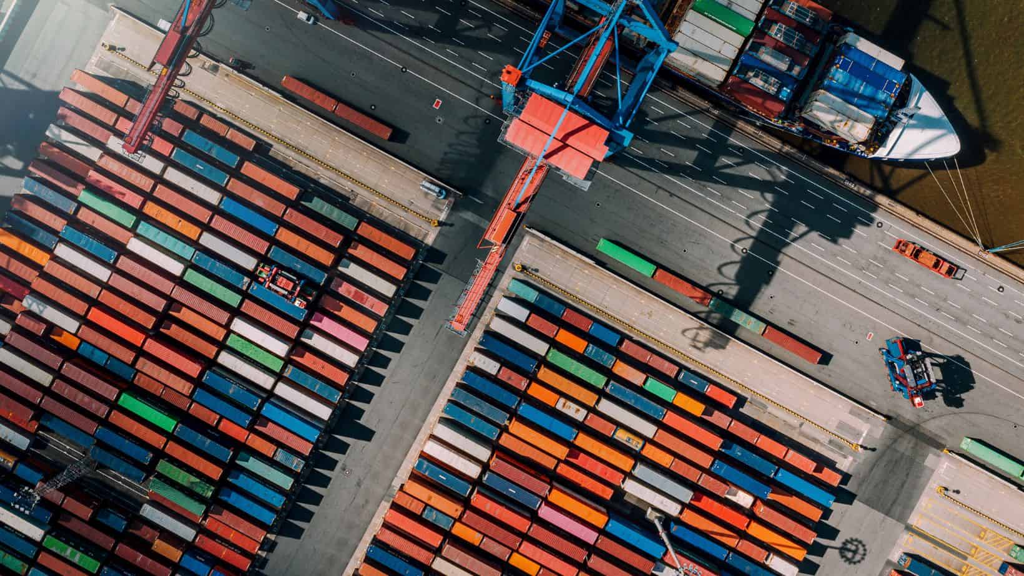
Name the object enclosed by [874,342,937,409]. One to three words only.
work vehicle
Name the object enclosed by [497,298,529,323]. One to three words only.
shipping container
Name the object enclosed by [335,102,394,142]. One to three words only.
shipping container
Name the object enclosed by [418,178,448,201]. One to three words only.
vehicle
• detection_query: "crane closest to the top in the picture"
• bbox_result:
[109,0,266,167]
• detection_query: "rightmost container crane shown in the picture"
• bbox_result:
[438,0,688,339]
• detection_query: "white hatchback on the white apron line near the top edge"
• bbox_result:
[296,9,318,26]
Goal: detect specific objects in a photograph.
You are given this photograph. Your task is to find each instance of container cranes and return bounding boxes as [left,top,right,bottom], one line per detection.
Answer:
[438,0,688,339]
[109,0,266,167]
